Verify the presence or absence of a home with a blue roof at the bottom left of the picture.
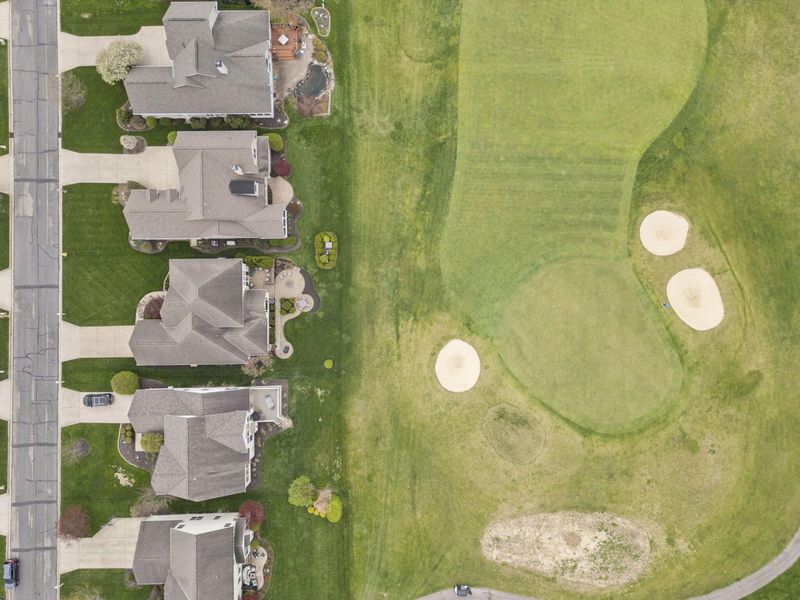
No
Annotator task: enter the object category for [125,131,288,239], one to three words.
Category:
house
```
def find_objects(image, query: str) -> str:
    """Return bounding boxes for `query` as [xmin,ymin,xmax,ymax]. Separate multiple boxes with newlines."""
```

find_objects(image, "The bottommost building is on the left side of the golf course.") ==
[133,513,259,600]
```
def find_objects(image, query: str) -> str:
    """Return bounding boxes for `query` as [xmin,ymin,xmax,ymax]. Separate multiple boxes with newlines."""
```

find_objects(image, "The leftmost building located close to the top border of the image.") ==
[124,2,275,117]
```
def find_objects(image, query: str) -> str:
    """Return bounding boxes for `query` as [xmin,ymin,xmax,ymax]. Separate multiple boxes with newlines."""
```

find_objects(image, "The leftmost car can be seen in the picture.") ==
[2,560,20,589]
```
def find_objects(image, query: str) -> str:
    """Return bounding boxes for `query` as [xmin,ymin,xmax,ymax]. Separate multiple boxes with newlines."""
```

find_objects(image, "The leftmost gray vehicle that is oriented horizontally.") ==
[80,393,112,408]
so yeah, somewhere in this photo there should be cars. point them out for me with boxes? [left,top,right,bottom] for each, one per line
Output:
[80,393,112,408]
[2,560,20,589]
